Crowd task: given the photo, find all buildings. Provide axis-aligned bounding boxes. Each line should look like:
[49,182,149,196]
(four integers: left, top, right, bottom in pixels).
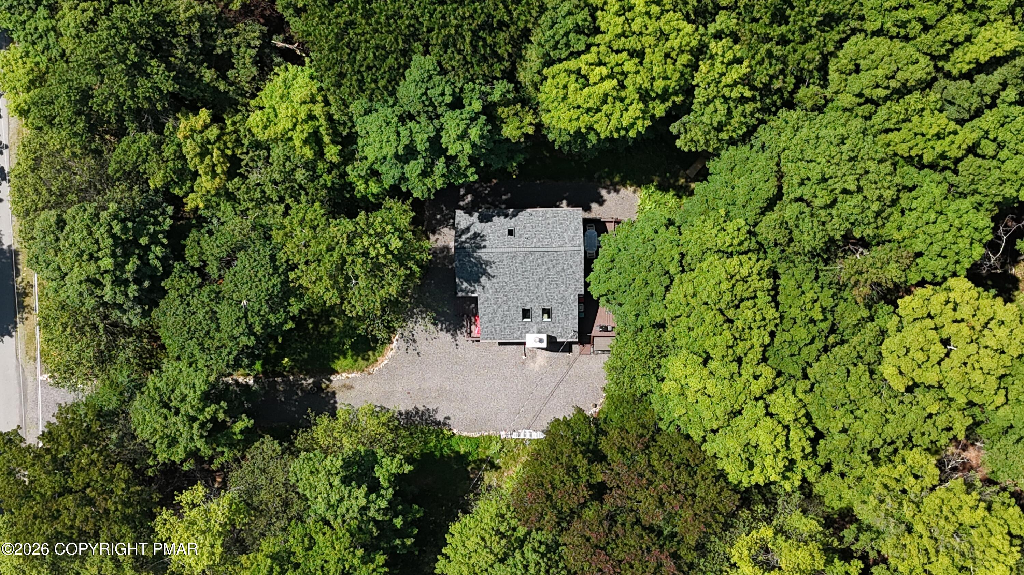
[454,205,585,354]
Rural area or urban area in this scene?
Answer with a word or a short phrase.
rural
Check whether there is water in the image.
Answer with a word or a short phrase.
No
